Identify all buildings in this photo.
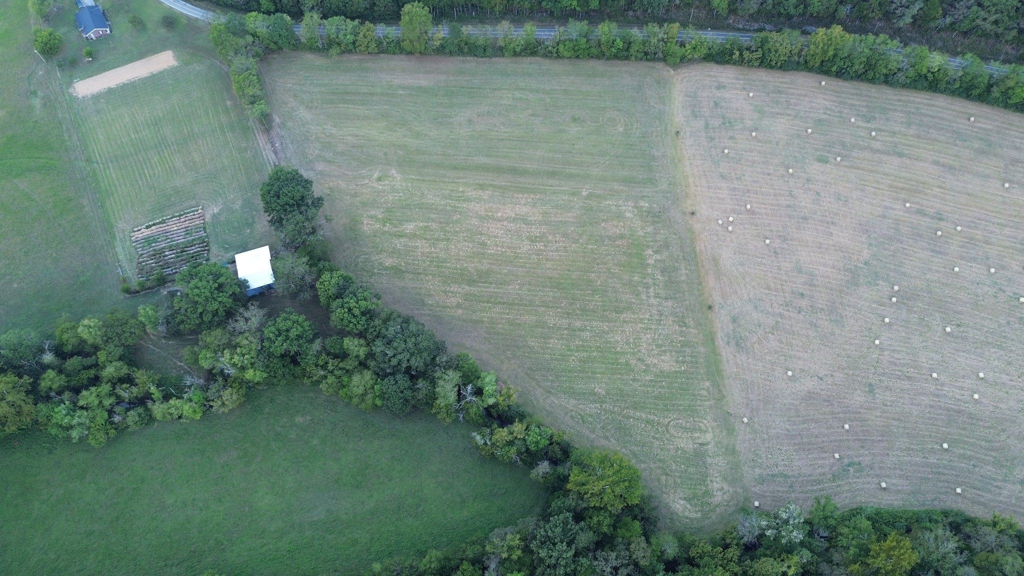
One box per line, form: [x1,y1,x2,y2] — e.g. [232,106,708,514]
[235,245,277,297]
[76,5,111,41]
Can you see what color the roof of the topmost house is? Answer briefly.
blue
